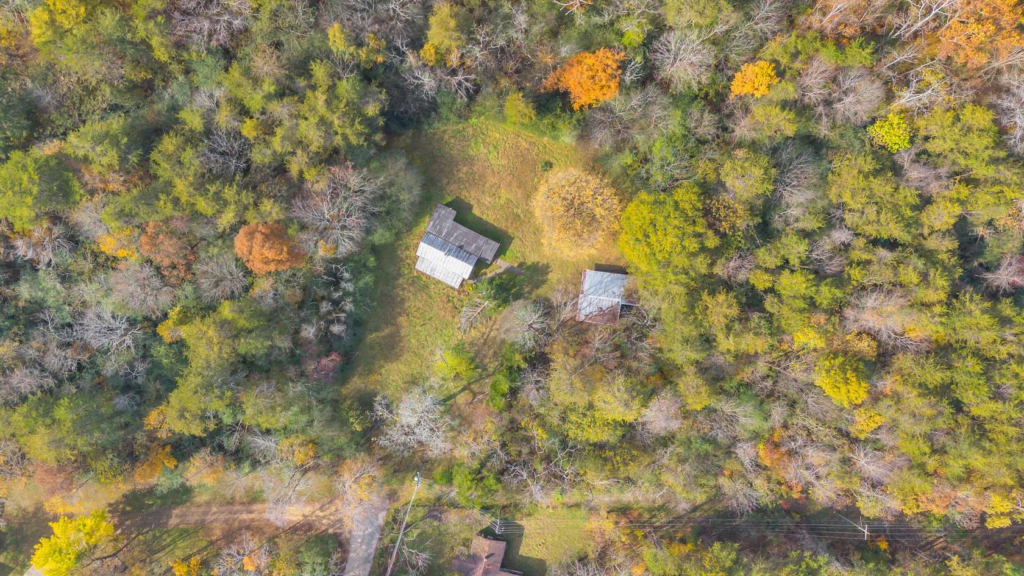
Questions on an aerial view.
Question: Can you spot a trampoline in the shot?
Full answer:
No, no trampoline can be seen from above.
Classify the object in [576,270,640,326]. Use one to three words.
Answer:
shed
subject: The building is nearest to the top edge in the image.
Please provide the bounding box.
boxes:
[416,204,504,291]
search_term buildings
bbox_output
[416,204,504,291]
[452,532,523,576]
[576,270,640,326]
